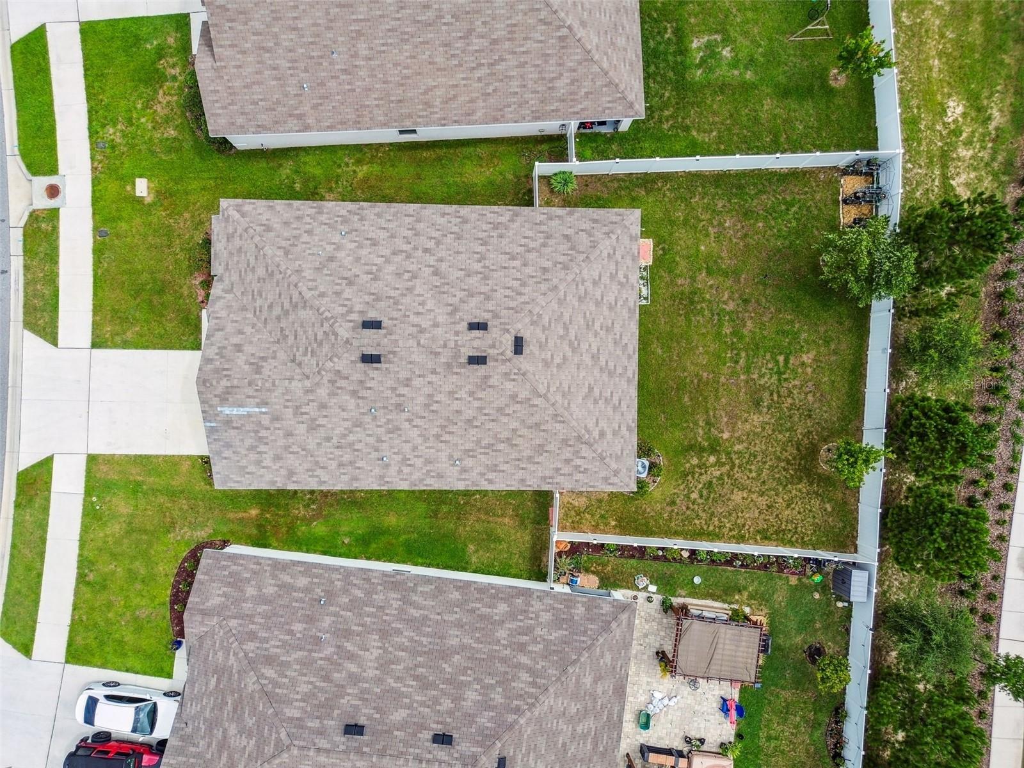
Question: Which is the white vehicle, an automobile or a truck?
automobile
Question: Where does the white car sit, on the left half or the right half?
left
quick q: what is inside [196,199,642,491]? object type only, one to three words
house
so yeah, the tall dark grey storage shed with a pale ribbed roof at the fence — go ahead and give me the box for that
[832,562,869,603]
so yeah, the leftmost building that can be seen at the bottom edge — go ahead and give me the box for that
[159,545,637,768]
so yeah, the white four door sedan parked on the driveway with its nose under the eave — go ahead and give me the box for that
[78,680,181,741]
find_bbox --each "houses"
[159,545,637,768]
[195,0,644,150]
[196,199,642,491]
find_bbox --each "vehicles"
[65,730,167,768]
[78,680,181,741]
